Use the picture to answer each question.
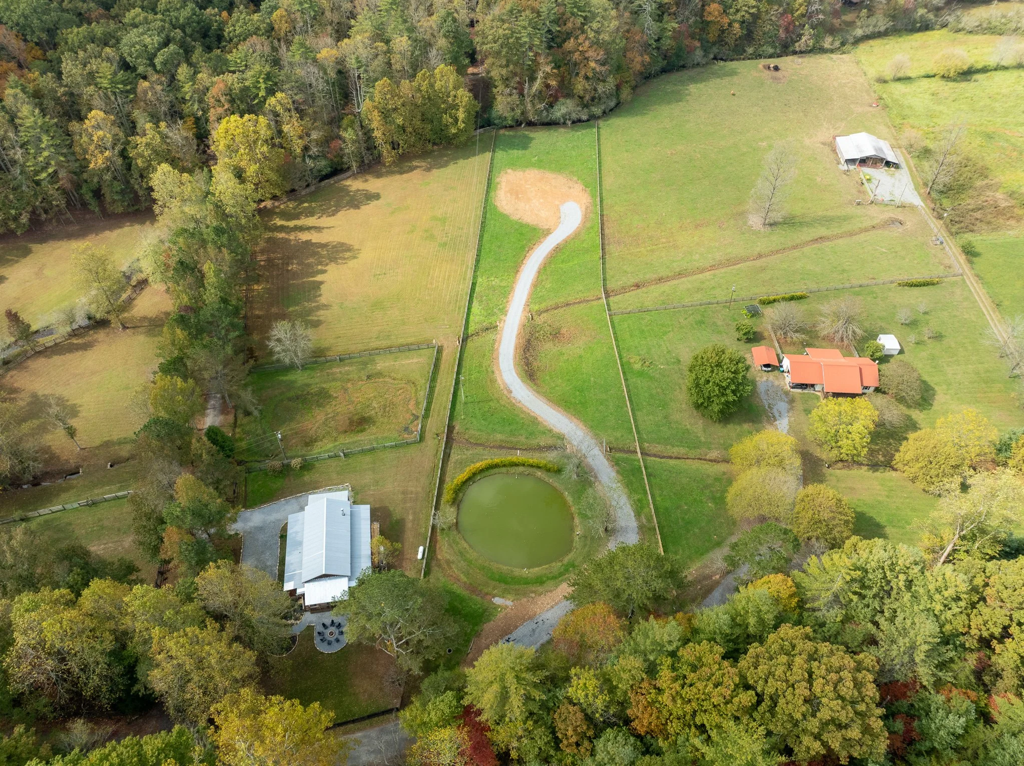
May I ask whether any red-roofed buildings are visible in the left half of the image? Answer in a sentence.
No, there's no red-roofed building to be seen in the left half of the image.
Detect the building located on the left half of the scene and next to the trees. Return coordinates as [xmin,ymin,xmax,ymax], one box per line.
[283,490,372,619]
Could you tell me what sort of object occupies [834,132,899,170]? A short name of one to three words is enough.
barn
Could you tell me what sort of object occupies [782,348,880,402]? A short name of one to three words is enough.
house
